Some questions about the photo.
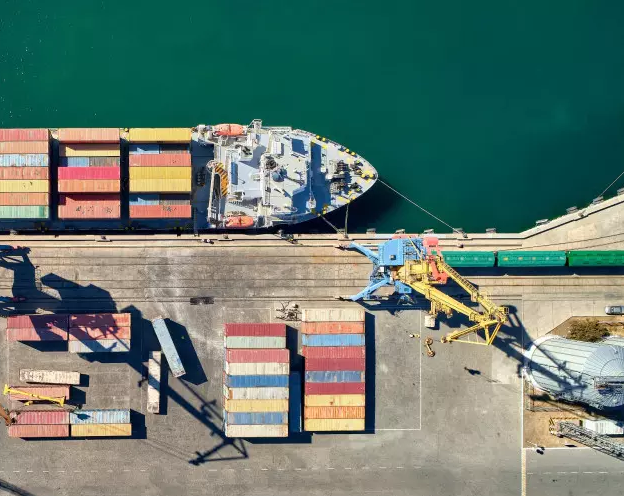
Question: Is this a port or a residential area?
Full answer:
This looks like a port.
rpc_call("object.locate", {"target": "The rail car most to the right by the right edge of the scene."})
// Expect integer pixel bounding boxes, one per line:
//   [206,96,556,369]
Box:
[563,250,624,266]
